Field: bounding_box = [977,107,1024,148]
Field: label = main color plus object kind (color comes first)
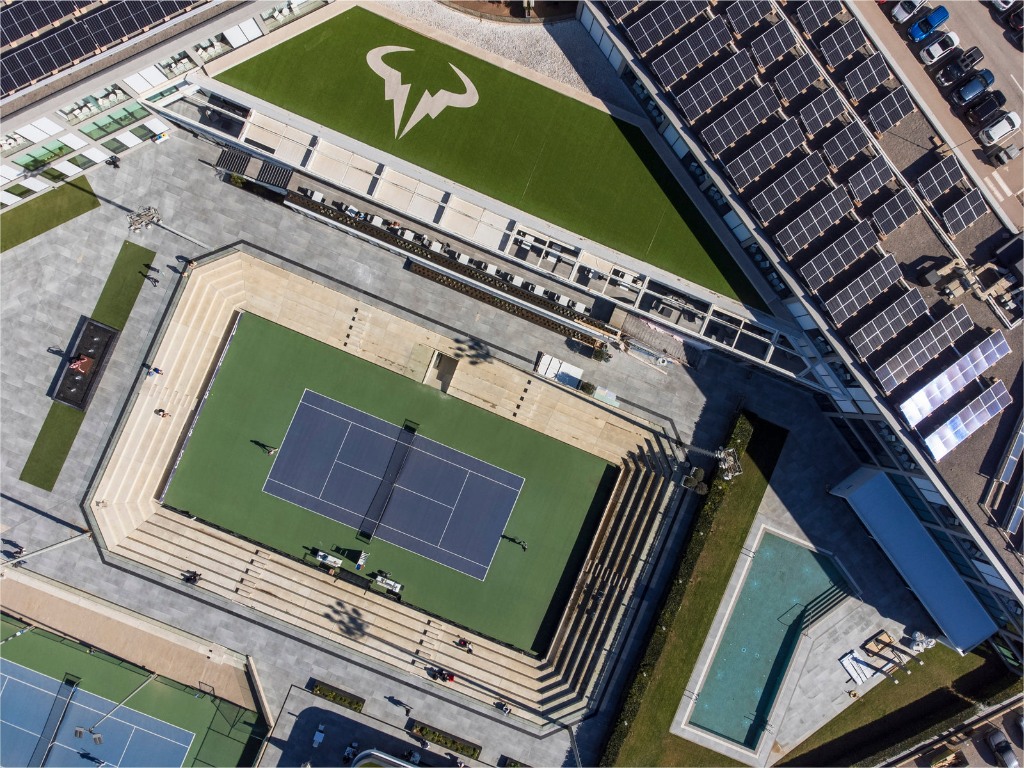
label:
white car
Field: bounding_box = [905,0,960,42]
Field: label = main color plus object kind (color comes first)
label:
blue car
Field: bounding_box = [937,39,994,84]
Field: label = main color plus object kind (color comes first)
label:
black car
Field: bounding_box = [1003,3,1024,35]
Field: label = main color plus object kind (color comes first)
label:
black car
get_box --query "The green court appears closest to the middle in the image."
[173,316,613,647]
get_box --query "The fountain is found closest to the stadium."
[51,315,126,411]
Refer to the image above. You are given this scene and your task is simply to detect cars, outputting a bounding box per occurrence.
[982,729,1024,768]
[905,0,960,42]
[937,39,994,84]
[919,26,966,65]
[951,66,1000,106]
[889,0,937,27]
[963,85,1013,126]
[1013,715,1024,741]
[977,107,1024,148]
[1003,3,1024,35]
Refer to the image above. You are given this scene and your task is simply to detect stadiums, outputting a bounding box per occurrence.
[93,250,680,724]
